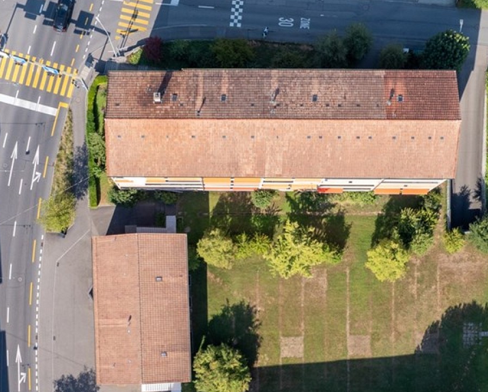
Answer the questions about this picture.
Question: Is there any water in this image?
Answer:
No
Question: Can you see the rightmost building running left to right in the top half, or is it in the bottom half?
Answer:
top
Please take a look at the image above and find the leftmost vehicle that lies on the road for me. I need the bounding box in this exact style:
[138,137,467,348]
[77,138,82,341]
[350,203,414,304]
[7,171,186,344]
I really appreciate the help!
[54,0,73,33]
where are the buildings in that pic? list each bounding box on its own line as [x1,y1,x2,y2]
[89,216,191,392]
[105,70,461,197]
